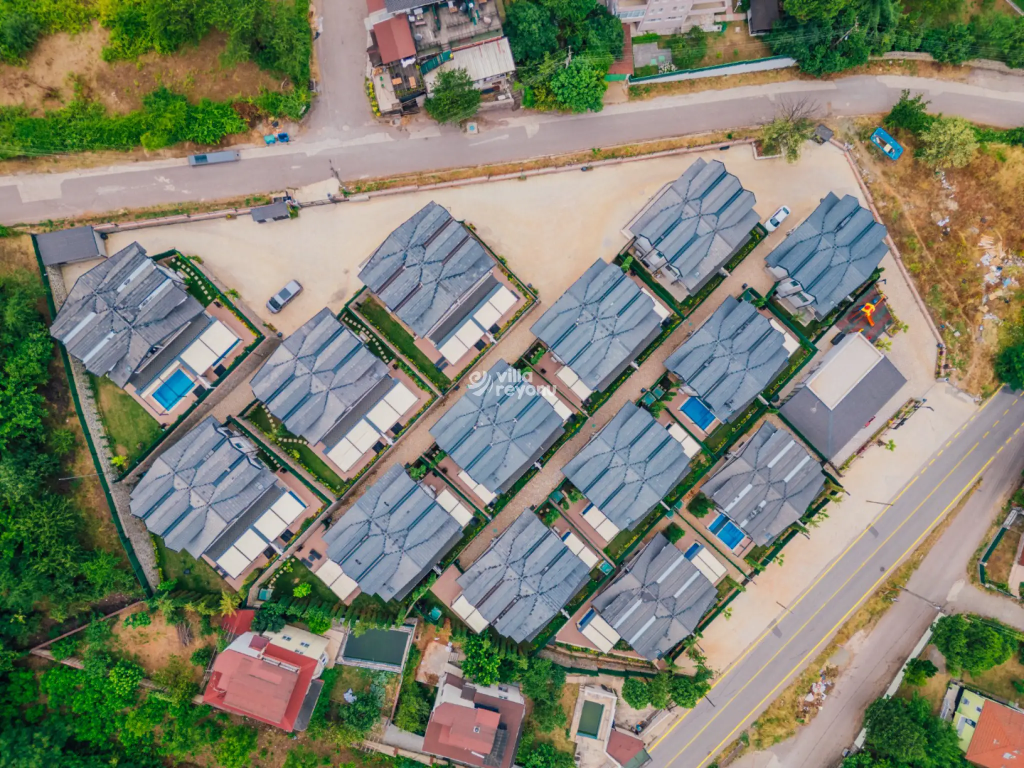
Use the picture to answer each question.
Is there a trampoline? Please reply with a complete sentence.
No, I find no trampoline anywhere in the image.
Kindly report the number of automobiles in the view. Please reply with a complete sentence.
The count of automobiles comes to 2.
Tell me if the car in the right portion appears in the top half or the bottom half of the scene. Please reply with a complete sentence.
The car in the right portion is in the top half of the image.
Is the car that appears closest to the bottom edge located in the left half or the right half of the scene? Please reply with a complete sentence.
It is on the left.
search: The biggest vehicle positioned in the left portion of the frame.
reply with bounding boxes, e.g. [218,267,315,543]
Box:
[266,278,306,315]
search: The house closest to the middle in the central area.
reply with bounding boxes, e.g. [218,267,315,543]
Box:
[432,358,566,493]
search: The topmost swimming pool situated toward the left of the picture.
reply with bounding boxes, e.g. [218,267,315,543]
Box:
[150,367,199,414]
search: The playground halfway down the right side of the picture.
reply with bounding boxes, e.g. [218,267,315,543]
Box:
[843,289,893,343]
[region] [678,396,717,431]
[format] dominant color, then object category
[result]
blue swimming pool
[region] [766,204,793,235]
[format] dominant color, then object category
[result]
white car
